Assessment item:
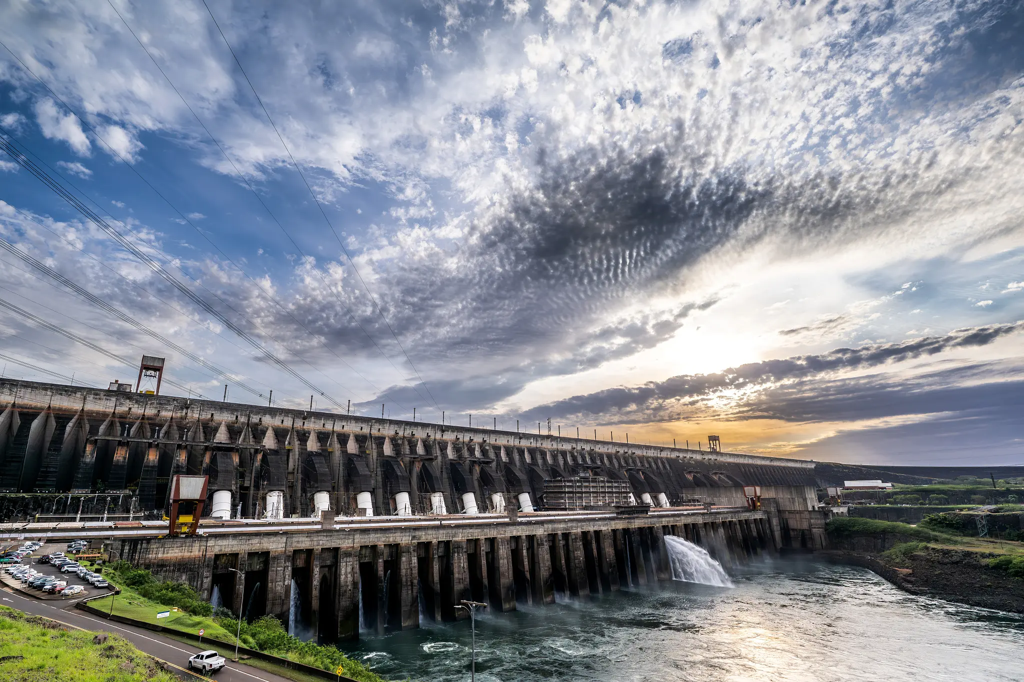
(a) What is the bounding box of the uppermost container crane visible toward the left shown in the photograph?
[136,354,168,394]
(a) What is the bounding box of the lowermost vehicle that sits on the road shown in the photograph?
[191,652,225,675]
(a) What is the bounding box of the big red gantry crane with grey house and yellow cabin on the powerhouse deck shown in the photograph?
[157,474,212,533]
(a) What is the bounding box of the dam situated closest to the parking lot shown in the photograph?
[0,378,835,518]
